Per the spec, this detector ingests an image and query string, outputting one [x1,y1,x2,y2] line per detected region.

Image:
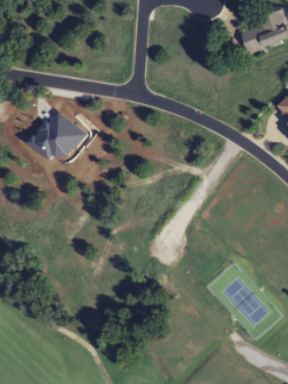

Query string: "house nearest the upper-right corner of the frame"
[242,8,288,53]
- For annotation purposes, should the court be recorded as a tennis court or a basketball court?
tennis court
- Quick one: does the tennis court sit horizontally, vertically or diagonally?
diagonally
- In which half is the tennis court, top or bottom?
bottom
